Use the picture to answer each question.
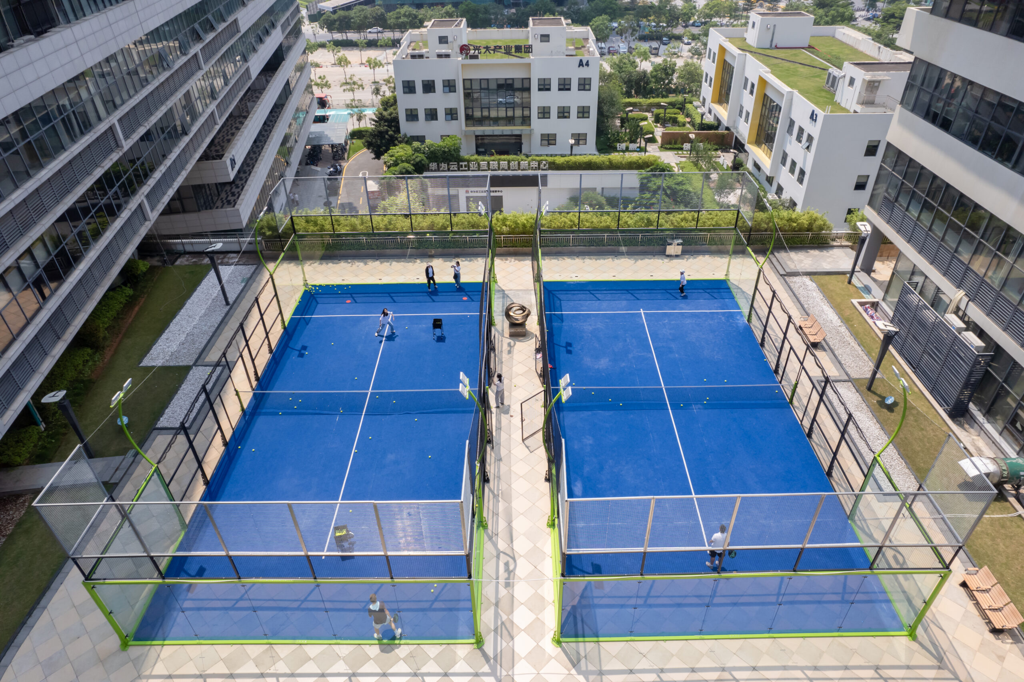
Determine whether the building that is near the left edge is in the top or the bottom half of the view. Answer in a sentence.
Seen from above, the building that is near the left edge lies in the top half of the view.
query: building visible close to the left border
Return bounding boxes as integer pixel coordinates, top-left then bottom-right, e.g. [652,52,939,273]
[0,0,323,466]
